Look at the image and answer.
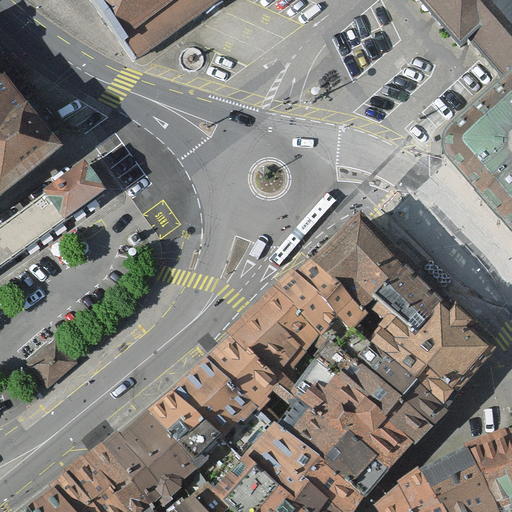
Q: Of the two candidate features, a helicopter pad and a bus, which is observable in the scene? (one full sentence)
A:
Of the two, only a bus appears.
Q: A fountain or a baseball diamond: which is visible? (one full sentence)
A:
There is a fountain in the scene.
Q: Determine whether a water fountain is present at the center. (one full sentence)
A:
No, I can find no water fountain at the center.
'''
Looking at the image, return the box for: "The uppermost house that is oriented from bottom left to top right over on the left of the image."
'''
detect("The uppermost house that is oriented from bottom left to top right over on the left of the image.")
[129,0,224,60]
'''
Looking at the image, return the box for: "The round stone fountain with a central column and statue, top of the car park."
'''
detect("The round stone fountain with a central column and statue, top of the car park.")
[174,42,208,76]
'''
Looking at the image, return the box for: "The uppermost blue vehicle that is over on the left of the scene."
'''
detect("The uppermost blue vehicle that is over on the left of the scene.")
[56,98,82,118]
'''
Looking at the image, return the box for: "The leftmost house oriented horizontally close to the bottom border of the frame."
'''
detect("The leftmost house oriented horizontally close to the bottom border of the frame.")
[21,482,84,512]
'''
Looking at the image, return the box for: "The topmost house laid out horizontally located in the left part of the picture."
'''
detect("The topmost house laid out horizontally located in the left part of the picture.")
[105,0,178,30]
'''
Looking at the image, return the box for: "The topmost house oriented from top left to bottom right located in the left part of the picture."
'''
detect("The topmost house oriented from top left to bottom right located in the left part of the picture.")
[94,0,134,58]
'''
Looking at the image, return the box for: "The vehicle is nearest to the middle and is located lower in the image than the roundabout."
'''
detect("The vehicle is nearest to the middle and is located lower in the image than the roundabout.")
[248,234,269,260]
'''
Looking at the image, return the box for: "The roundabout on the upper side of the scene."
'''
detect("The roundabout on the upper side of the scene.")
[248,157,292,201]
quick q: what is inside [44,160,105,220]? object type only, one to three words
building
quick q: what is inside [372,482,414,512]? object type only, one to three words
house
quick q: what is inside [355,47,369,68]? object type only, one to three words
car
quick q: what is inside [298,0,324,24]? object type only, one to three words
vehicle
